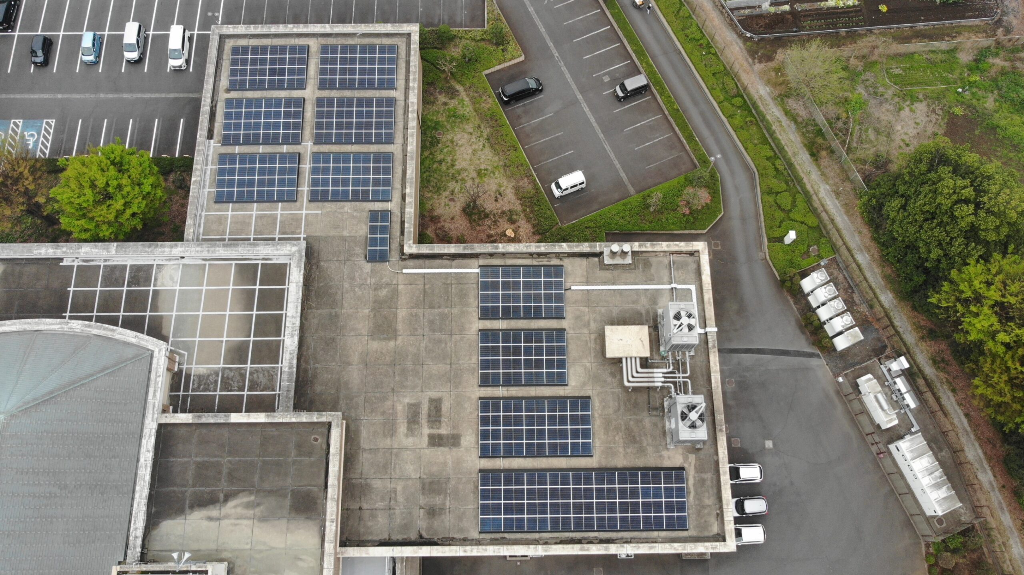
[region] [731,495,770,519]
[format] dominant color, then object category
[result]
white car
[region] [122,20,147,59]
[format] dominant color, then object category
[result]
white vehicle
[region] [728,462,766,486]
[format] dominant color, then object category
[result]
white car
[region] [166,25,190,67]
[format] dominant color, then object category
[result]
white vehicle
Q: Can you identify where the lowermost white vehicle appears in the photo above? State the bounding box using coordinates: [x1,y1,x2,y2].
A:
[733,523,768,547]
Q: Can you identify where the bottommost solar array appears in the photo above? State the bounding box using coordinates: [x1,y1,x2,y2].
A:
[479,466,688,533]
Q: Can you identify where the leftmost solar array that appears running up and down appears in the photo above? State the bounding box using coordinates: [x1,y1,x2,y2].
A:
[367,212,391,263]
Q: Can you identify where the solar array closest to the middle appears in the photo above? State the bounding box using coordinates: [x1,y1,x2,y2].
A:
[479,267,565,319]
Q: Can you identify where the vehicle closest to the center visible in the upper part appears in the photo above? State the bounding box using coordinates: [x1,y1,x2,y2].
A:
[548,169,588,201]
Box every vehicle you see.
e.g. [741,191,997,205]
[548,169,588,201]
[166,25,190,67]
[29,31,53,63]
[499,78,544,107]
[79,30,102,62]
[614,73,649,102]
[728,462,766,486]
[731,495,770,519]
[733,523,768,547]
[122,20,147,59]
